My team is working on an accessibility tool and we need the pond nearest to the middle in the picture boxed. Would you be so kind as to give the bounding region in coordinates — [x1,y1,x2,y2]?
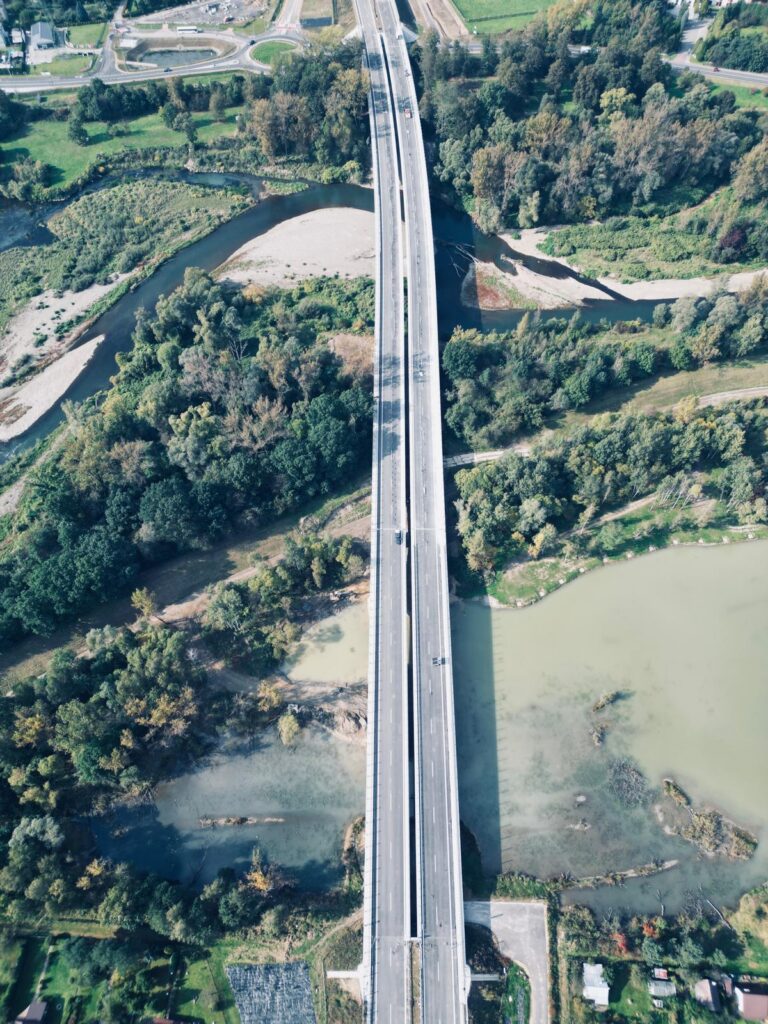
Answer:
[284,598,369,685]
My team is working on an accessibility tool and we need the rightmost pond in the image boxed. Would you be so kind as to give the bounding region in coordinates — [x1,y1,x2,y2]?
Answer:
[406,535,768,921]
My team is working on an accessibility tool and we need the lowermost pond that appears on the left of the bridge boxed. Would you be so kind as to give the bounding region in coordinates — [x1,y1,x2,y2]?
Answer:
[94,726,367,889]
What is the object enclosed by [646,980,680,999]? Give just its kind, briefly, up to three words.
greenhouse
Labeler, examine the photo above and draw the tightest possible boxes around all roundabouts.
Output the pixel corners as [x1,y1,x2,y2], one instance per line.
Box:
[234,34,310,76]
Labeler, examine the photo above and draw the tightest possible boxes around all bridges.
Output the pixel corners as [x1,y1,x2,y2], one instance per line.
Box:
[355,0,473,1024]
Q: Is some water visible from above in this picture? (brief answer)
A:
Yes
